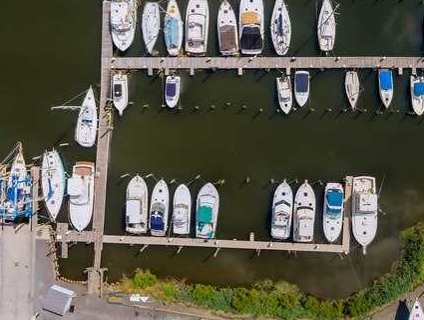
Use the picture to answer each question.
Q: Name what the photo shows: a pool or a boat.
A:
boat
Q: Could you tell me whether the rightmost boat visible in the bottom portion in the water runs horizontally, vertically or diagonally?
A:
vertically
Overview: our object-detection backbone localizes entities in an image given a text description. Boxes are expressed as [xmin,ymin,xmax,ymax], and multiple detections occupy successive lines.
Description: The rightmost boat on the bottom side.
[409,297,424,320]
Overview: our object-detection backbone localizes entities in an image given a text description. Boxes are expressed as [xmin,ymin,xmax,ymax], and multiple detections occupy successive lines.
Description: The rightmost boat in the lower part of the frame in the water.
[343,169,391,258]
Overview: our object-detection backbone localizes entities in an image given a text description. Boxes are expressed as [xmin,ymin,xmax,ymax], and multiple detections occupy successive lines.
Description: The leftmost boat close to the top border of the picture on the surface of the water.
[109,0,137,54]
